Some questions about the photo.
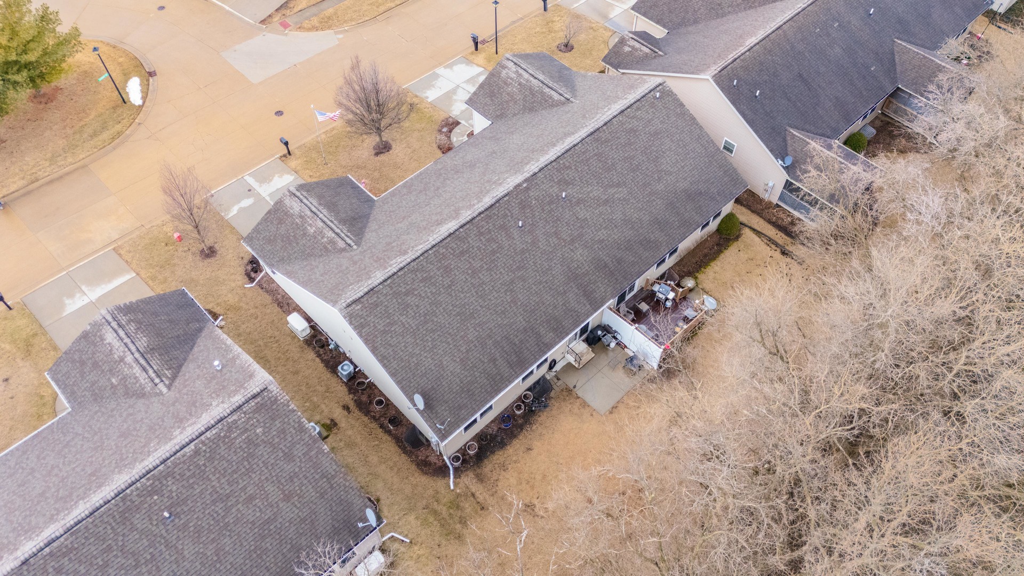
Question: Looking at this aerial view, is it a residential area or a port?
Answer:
residential area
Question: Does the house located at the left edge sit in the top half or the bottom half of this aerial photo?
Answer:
bottom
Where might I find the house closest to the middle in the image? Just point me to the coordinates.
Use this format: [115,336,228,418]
[242,53,751,489]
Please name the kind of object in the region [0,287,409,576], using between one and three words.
house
